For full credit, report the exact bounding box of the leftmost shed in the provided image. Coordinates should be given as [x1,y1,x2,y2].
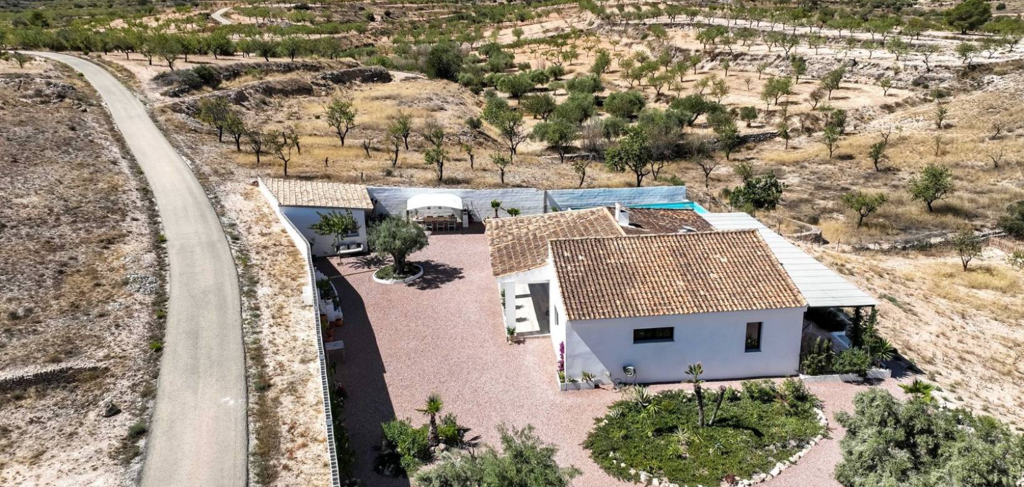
[262,178,374,256]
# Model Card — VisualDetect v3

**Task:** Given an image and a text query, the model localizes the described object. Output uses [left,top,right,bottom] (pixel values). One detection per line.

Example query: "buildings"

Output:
[262,178,374,256]
[486,195,808,387]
